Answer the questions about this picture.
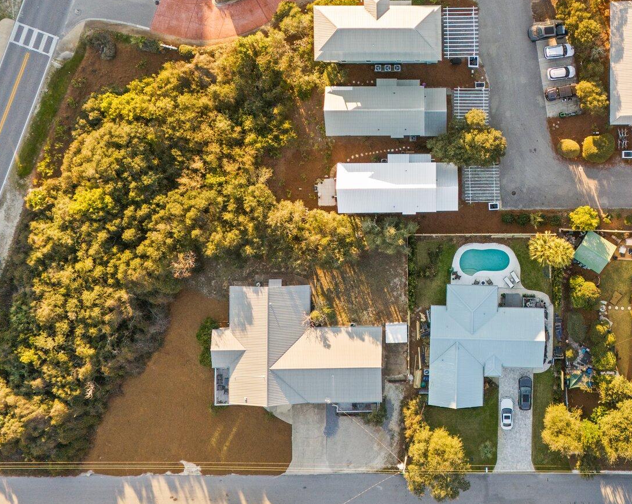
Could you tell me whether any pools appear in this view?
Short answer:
Yes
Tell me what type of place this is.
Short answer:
residential area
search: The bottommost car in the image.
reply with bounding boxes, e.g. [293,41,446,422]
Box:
[499,396,514,430]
